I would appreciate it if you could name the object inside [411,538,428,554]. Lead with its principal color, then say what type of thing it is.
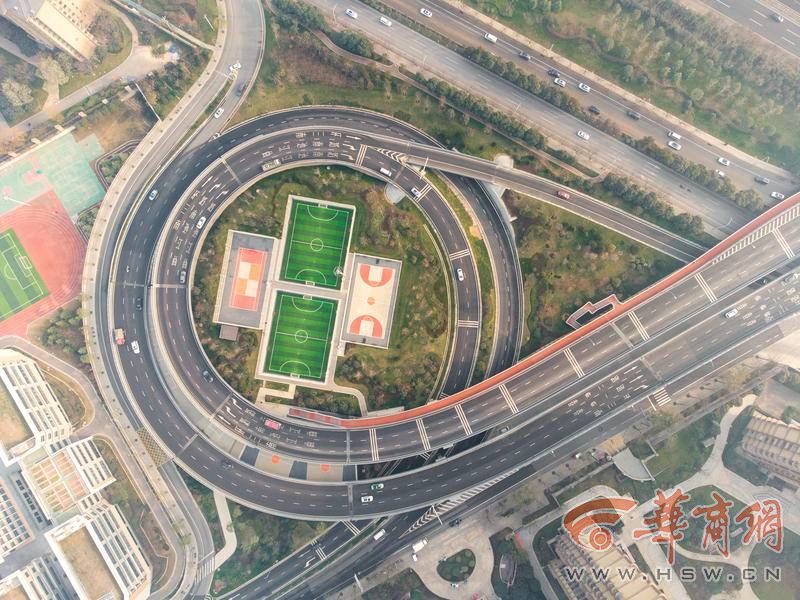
white vehicle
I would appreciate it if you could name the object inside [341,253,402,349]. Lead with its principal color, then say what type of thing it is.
white basketball court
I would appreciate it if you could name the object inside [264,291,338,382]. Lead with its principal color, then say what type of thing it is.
green soccer field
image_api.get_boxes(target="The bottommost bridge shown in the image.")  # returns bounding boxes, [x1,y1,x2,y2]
[151,126,800,466]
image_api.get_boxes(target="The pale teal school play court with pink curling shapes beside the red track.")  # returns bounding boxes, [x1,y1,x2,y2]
[0,133,112,214]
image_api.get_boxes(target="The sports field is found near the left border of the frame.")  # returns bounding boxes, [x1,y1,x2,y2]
[0,229,48,320]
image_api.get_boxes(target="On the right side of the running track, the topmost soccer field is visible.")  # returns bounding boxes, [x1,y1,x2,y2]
[279,199,353,292]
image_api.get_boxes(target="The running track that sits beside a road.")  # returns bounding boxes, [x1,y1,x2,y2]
[0,189,88,346]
